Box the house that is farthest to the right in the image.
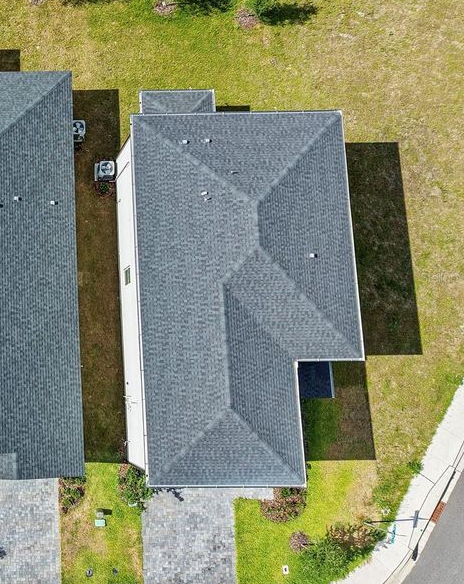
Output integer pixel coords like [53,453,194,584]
[117,88,366,489]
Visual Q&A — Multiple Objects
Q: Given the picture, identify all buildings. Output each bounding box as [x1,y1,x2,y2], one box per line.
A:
[0,71,84,481]
[117,88,366,489]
